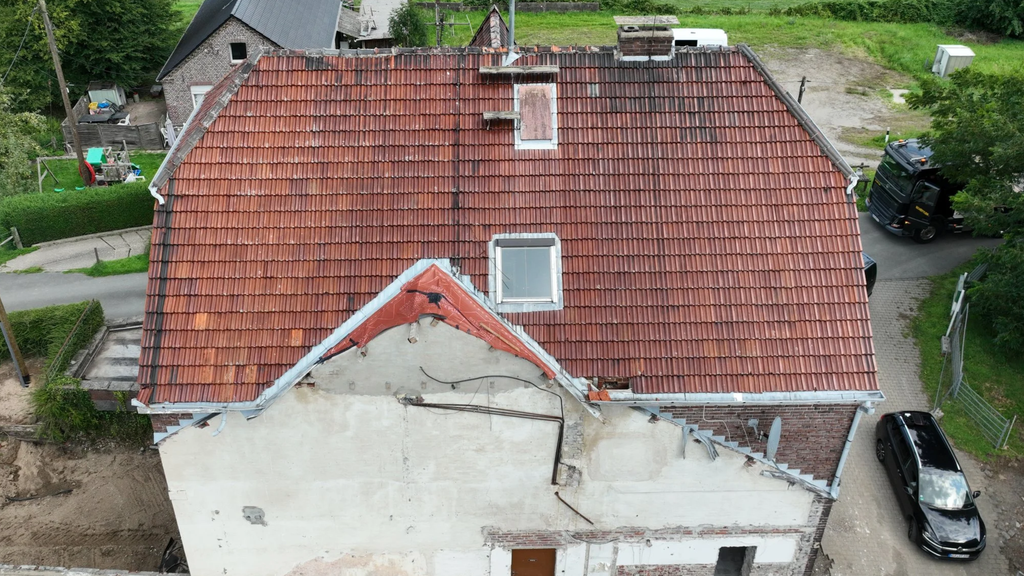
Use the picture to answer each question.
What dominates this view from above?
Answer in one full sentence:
The largest share of the image is taken up by buildings.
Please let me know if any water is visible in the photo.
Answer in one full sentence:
No, there is no water in the image.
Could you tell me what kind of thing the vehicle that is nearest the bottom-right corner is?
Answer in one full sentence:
From above, the vehicle that is nearest the bottom-right corner can be identified as an automobile.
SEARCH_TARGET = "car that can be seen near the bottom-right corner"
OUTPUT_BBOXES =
[877,407,997,558]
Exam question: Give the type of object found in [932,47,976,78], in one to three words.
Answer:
shed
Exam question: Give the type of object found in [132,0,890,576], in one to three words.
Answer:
house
